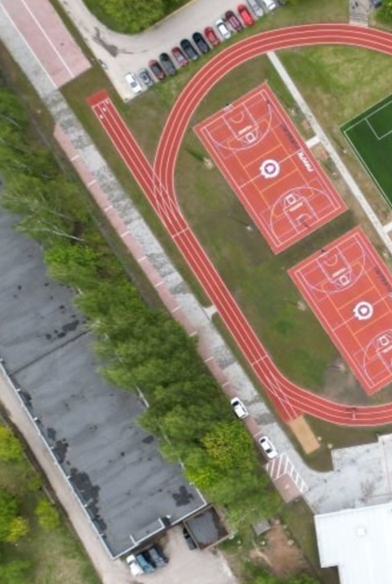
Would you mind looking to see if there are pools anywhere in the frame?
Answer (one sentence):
No, the picture doesn't show any pool.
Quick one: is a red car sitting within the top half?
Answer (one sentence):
Yes, you'll find a red car within the top half.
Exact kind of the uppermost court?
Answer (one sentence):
I'd identify the uppermost court as a basketball court.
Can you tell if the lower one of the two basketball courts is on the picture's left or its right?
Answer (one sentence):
The lower one of the two basketball courts sits on the right side.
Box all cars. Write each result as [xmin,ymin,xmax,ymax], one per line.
[191,32,212,53]
[159,52,178,74]
[238,3,256,26]
[204,26,222,46]
[224,9,244,32]
[125,552,145,576]
[215,18,232,38]
[139,68,154,87]
[247,0,265,19]
[259,435,277,459]
[149,60,167,79]
[181,529,198,550]
[172,46,189,67]
[135,551,157,575]
[124,72,143,94]
[232,398,248,418]
[180,38,201,61]
[148,546,168,569]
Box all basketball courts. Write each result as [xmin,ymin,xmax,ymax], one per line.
[288,225,392,397]
[193,82,348,255]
